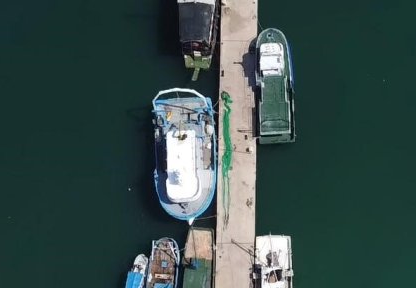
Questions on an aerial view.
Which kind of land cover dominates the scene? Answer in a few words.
water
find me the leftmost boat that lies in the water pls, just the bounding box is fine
[126,254,149,288]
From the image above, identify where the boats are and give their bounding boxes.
[145,237,180,288]
[151,88,222,225]
[231,232,295,288]
[251,22,296,146]
[126,254,149,288]
[179,227,215,288]
[176,0,223,81]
